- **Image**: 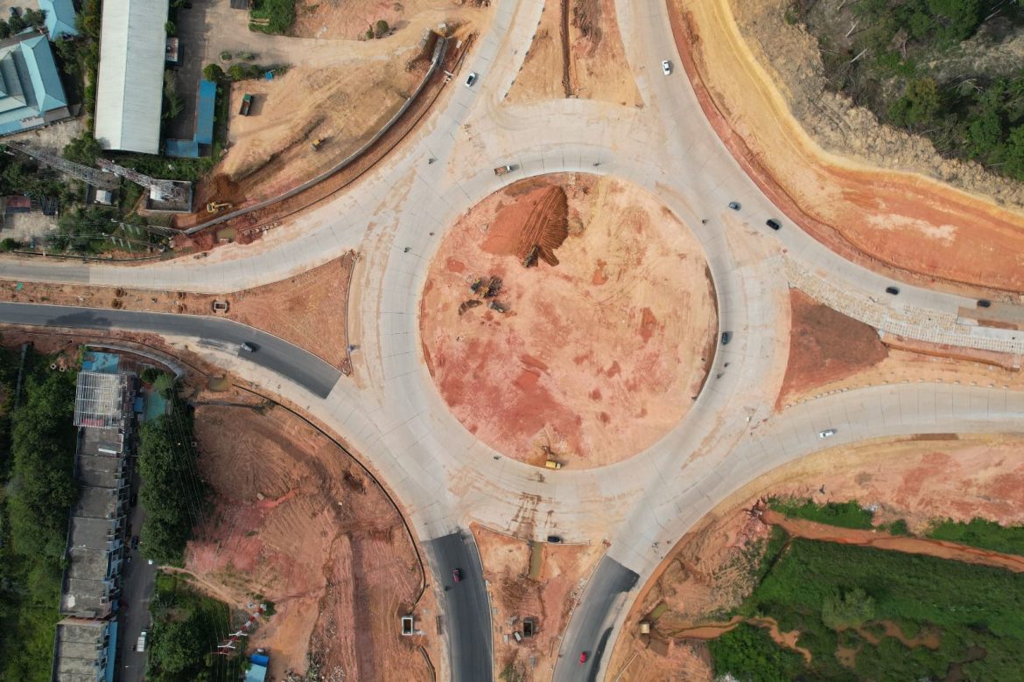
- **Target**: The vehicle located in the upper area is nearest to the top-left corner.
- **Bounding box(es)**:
[235,91,251,115]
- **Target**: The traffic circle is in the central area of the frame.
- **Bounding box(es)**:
[348,99,789,541]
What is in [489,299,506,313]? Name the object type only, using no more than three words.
vehicle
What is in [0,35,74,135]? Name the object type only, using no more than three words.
house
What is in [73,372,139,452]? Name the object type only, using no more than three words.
building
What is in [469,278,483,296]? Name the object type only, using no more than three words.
vehicle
